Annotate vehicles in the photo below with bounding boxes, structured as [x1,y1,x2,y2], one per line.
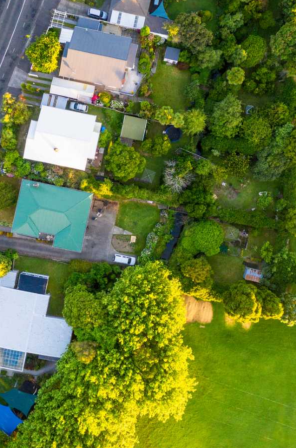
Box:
[86,9,108,20]
[113,254,136,265]
[67,101,90,112]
